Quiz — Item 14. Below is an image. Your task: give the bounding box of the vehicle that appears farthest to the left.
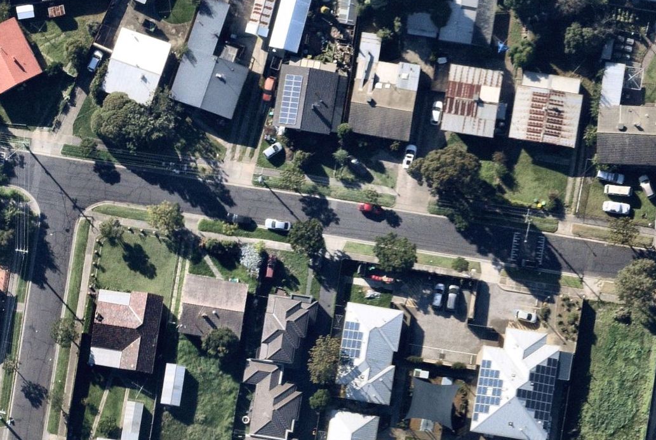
[85,48,105,74]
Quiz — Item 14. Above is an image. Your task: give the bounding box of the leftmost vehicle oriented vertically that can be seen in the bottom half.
[263,253,277,281]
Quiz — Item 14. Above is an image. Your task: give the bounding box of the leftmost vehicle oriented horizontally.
[226,213,252,227]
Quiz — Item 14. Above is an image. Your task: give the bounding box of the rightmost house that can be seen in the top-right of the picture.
[598,62,656,166]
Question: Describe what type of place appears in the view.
residential area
